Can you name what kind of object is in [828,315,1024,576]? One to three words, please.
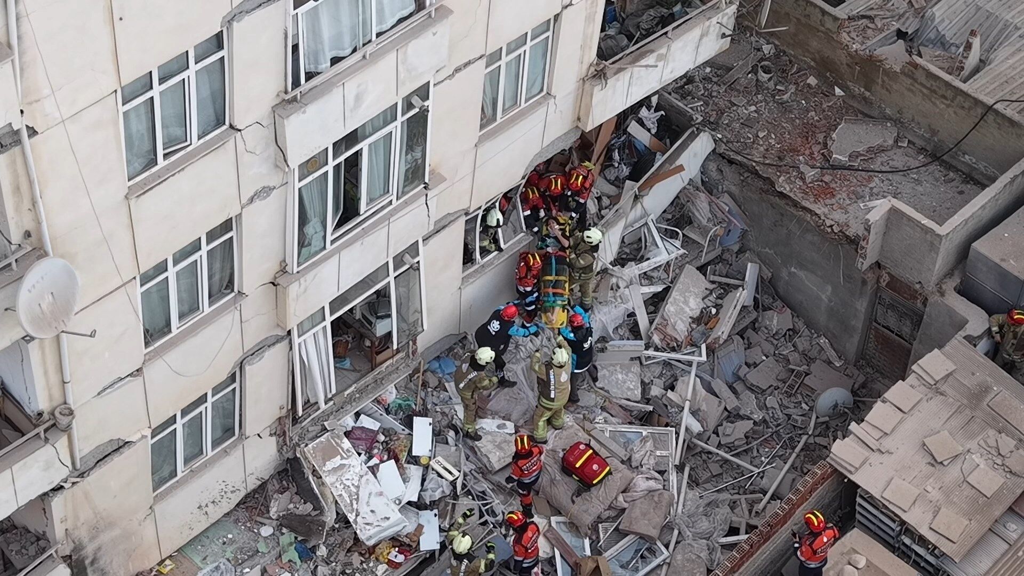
shed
